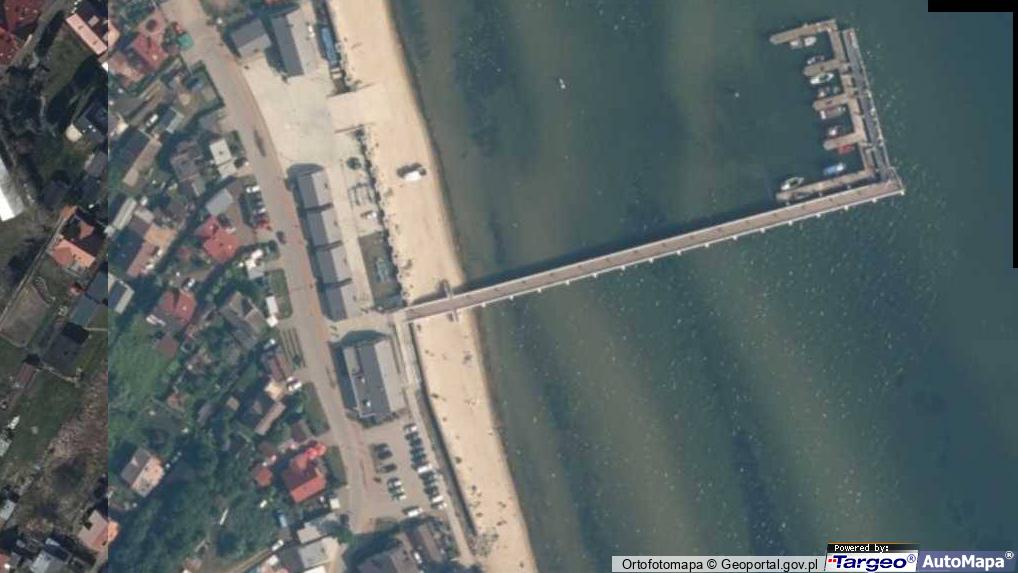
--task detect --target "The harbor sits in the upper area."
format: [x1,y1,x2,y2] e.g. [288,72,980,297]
[769,20,897,200]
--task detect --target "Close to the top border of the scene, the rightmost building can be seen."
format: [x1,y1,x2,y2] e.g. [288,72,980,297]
[271,9,319,78]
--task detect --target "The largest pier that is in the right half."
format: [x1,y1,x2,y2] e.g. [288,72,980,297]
[403,177,906,322]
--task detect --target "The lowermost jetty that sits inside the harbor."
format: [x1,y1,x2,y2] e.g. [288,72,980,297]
[776,170,870,199]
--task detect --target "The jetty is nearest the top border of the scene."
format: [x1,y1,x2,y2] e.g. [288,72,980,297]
[770,20,833,44]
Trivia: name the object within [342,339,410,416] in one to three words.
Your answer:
building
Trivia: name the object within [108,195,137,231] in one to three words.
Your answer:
barn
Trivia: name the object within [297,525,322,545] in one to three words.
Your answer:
shed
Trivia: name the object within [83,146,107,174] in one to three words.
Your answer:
house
